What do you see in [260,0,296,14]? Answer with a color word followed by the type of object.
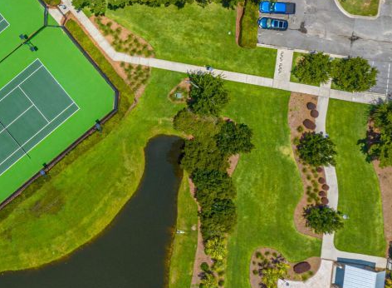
blue vehicle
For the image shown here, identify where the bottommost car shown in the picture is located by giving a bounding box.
[259,17,288,30]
